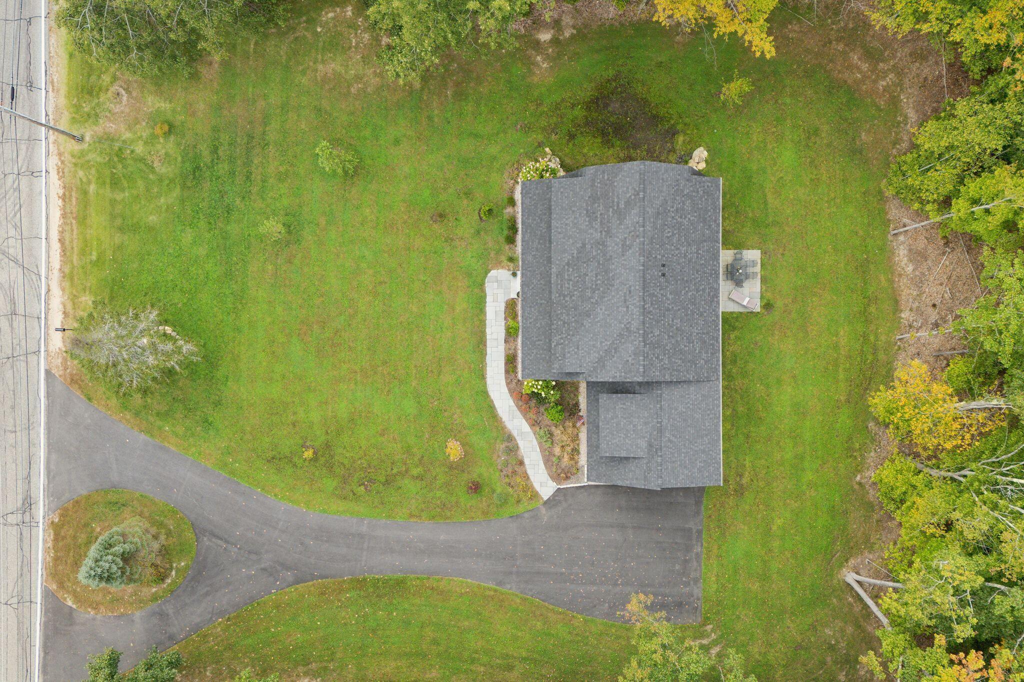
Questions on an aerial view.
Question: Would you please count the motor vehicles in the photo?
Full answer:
The count of motor vehicles is 0.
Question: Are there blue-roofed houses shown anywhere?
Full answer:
No, the scene contains no blue-roofed house.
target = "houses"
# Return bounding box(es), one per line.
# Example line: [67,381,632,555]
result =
[518,162,722,489]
